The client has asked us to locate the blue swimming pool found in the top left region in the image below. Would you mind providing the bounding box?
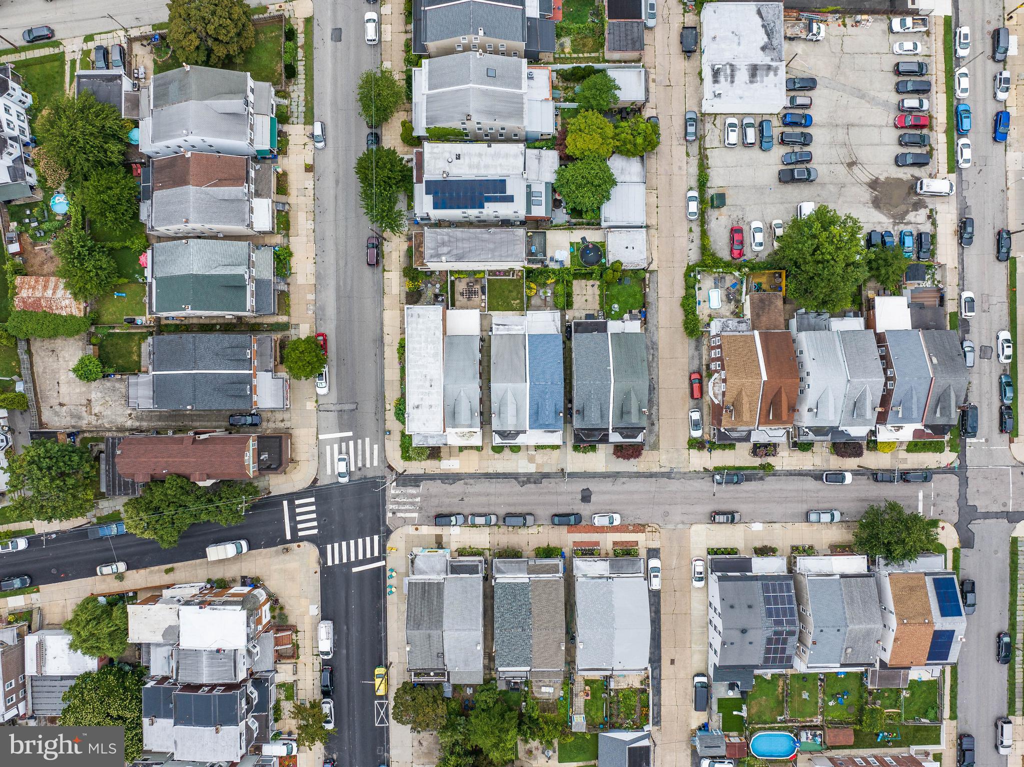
[50,194,71,215]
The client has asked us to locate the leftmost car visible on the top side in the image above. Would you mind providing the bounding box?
[22,25,55,43]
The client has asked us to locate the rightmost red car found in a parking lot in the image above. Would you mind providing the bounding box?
[894,112,931,130]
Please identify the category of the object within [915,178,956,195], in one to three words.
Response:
vehicle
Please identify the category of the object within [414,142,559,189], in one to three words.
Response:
house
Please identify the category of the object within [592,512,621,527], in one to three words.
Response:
car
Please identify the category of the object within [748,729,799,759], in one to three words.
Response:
swimming pool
